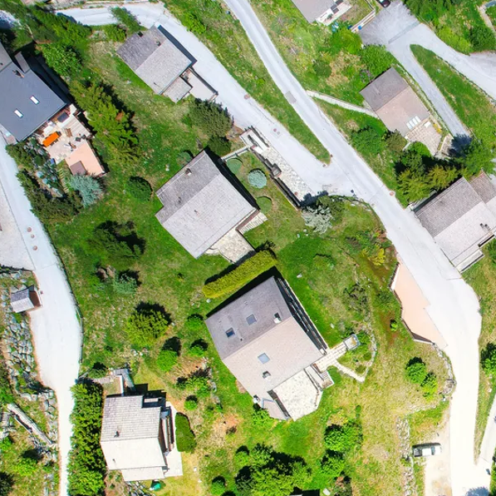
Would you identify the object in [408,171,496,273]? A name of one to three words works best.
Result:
house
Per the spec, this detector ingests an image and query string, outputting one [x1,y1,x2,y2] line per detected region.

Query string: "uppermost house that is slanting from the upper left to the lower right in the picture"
[120,25,222,110]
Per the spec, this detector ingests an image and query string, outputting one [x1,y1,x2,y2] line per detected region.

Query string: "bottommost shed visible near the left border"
[9,287,50,312]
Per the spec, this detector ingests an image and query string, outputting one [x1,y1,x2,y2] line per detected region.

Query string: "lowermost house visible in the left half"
[99,374,187,481]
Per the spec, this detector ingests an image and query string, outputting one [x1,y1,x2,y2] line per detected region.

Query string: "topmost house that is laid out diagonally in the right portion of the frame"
[360,68,455,160]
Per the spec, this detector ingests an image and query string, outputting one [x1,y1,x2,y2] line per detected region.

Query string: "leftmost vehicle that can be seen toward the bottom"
[413,443,442,456]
